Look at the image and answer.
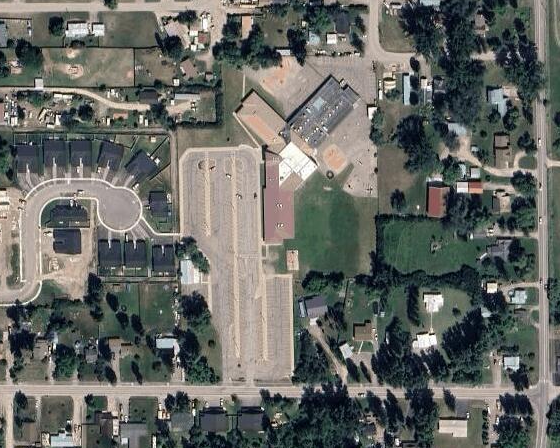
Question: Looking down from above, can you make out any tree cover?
Yes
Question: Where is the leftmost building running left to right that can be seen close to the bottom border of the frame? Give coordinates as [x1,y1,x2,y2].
[42,428,80,447]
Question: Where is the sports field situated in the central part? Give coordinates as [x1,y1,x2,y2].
[283,172,375,269]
